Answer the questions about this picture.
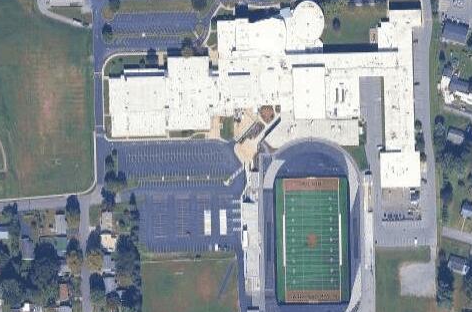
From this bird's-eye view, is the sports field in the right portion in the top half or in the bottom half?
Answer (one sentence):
Seen from above, the sports field in the right portion lies in the bottom half of the view.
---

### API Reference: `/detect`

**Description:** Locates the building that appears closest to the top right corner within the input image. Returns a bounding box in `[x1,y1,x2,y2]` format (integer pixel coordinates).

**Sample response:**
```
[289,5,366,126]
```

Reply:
[443,21,470,42]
